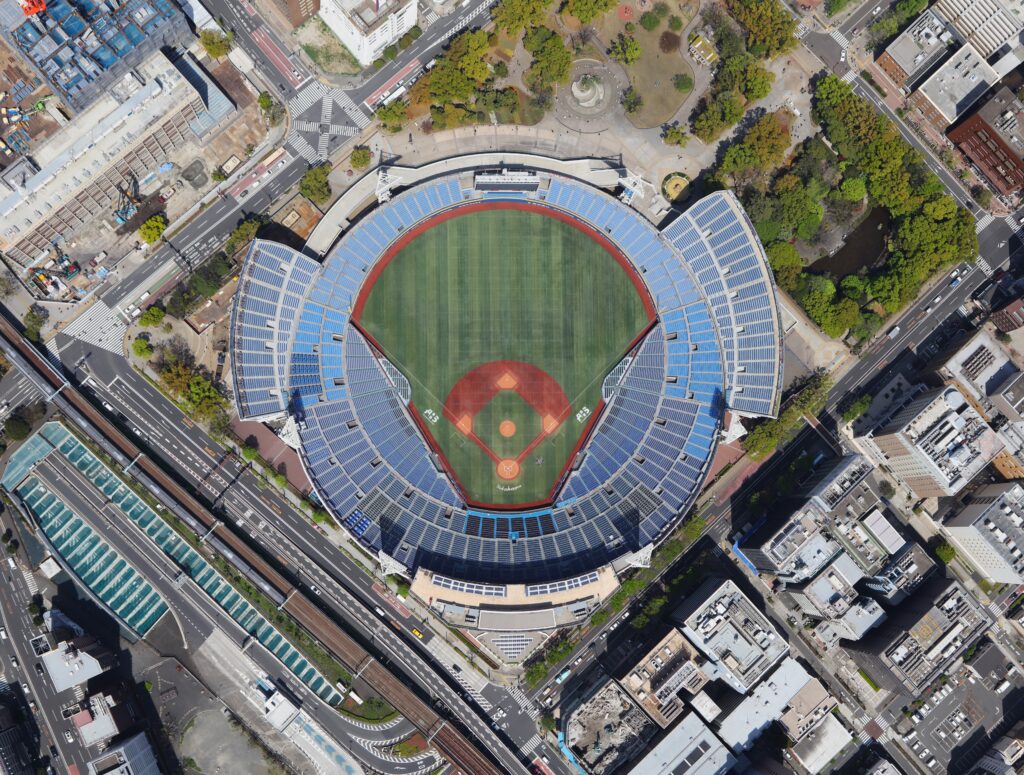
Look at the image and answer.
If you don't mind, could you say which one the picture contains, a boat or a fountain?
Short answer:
fountain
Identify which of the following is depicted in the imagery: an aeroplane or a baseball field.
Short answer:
baseball field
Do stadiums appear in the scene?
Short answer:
Yes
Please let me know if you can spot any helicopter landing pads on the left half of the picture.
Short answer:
No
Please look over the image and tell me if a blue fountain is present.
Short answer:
No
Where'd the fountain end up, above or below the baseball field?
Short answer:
above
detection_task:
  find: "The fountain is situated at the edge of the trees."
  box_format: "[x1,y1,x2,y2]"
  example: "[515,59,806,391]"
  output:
[556,59,620,123]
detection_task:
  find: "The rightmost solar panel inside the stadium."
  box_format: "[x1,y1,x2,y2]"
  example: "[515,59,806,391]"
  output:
[529,570,600,596]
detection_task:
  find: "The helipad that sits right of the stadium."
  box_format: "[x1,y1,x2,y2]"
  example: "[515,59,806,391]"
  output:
[909,606,951,649]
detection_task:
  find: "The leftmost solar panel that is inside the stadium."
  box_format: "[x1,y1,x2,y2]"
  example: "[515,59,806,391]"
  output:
[433,573,504,597]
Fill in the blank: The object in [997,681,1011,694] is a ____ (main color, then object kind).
white vehicle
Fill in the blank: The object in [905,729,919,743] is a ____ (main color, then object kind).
white vehicle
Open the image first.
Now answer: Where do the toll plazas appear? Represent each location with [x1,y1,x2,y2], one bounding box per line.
[263,690,301,731]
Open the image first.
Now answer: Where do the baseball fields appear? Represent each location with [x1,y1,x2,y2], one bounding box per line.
[351,204,655,511]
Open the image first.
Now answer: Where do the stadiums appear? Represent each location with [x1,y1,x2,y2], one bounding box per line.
[231,152,786,630]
